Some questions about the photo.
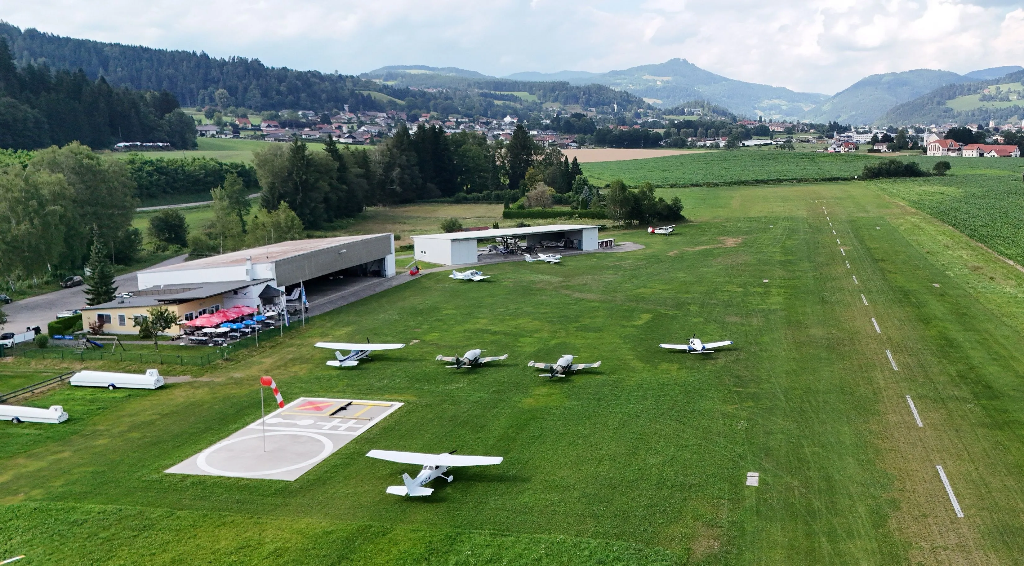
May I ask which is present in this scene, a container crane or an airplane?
airplane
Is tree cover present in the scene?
Yes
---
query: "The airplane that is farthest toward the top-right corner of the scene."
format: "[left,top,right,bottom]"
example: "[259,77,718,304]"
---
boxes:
[648,223,678,235]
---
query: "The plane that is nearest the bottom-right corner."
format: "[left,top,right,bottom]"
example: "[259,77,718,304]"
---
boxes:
[661,335,732,354]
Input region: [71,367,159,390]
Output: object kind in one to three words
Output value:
trailer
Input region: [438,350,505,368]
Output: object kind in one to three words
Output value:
airplane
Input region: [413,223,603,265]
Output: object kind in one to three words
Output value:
hangar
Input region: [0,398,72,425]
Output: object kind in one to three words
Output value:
trailer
